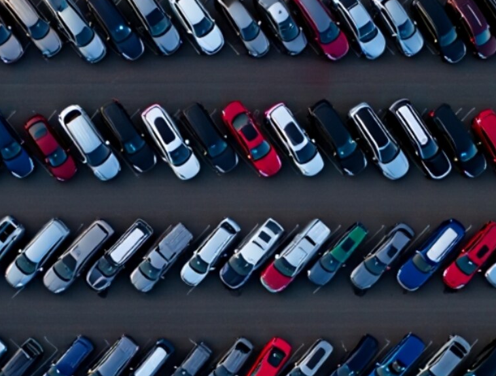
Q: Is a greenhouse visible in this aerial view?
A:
No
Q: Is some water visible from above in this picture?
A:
No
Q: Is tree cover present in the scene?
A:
No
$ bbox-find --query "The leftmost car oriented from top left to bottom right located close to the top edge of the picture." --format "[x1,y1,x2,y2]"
[3,0,59,58]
